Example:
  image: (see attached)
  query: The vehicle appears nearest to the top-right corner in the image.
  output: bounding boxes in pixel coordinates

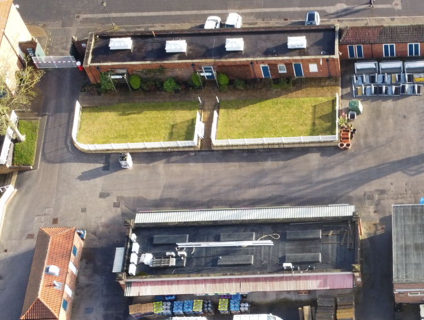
[303,8,320,26]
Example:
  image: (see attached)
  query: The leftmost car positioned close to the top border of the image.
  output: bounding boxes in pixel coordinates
[204,15,223,29]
